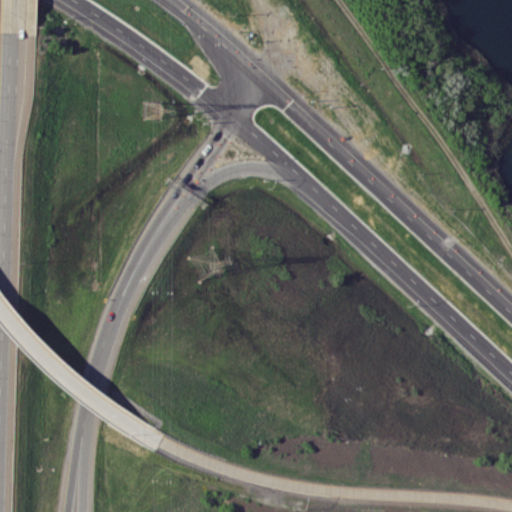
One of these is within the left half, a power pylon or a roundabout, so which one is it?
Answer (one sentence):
What appears within the left half is a power pylon.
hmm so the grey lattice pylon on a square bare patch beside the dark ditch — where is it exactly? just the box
[142,101,177,122]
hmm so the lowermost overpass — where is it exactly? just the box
[0,290,165,451]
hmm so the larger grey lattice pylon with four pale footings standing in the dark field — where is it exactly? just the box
[188,246,233,284]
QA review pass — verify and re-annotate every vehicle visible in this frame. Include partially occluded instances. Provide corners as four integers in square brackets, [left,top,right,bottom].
[194,156,206,169]
[182,172,194,186]
[212,130,223,142]
[201,143,214,158]
[106,310,114,323]
[18,28,25,40]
